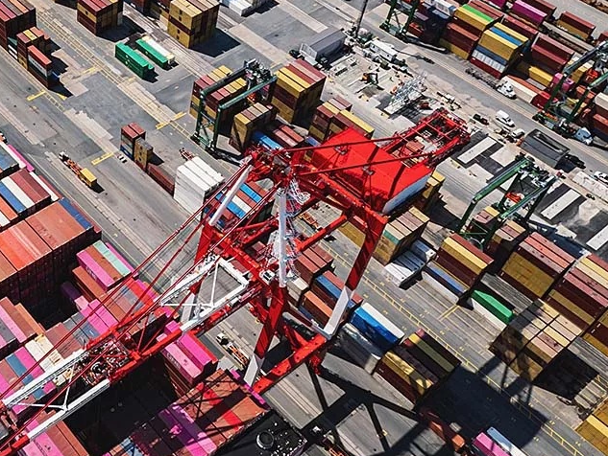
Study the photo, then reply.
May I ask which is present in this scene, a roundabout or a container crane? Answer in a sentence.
The image shows a container crane.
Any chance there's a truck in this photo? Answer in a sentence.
Yes, the photo shows a truck.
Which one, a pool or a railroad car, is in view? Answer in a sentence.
The image shows a railroad car.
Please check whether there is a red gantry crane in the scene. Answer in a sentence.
Yes, a red gantry crane can be made out from above.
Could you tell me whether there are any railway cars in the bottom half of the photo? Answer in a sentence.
No, in the bottom half of the photo there is no railway car.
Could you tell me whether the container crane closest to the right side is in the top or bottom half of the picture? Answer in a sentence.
You can find the container crane closest to the right side in the top half.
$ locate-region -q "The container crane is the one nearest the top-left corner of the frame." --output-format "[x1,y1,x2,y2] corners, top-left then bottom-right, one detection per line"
[192,64,277,150]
